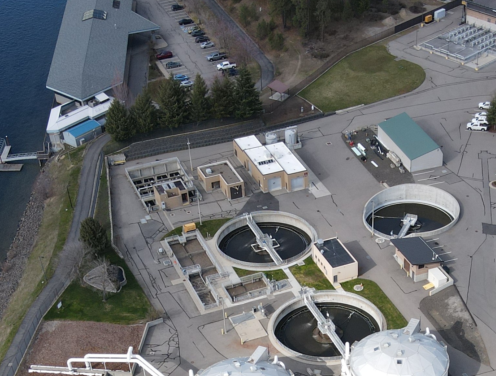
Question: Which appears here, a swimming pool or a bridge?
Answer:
bridge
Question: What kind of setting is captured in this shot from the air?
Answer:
industrial area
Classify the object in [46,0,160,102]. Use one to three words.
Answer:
building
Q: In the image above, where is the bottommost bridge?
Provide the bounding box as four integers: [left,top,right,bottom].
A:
[303,289,350,356]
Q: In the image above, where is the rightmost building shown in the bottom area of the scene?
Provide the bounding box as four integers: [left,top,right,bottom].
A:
[390,237,444,280]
